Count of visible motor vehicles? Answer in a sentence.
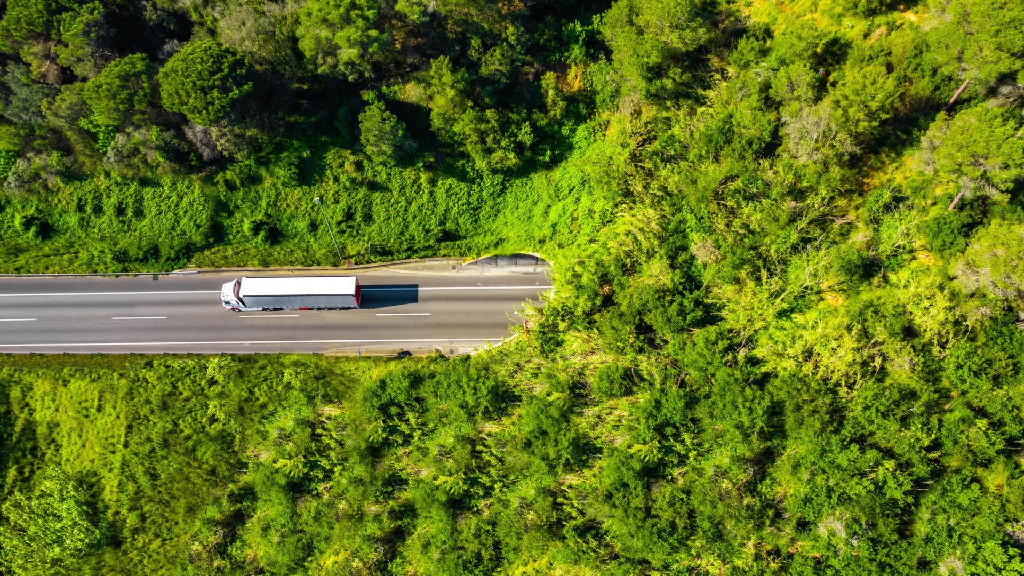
Just 1 motor vehicle appears in this view.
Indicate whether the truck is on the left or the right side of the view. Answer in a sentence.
It is on the left.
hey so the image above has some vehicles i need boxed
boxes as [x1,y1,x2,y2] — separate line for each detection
[220,276,362,311]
